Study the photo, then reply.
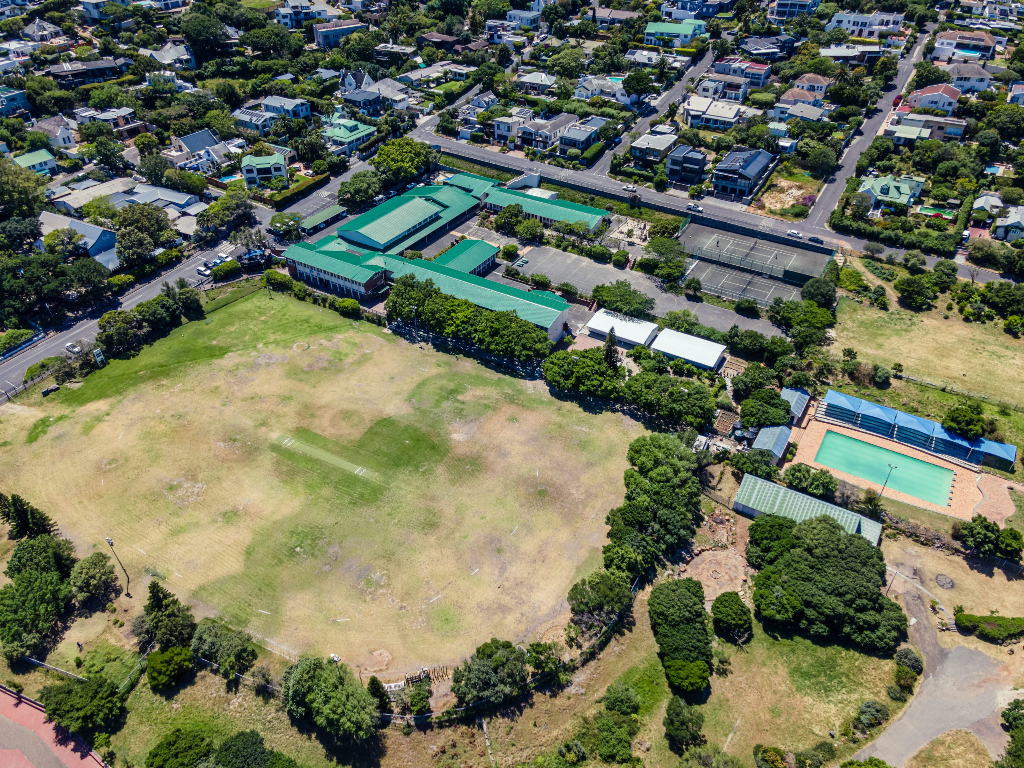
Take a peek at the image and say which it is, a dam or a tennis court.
tennis court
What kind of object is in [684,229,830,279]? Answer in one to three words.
tennis court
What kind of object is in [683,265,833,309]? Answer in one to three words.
tennis court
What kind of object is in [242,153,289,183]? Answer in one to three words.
building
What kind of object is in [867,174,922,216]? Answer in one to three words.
house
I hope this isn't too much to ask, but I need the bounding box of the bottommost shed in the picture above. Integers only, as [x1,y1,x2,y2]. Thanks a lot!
[734,481,883,551]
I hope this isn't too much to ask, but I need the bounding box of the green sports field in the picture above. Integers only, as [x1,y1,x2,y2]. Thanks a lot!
[275,435,378,479]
